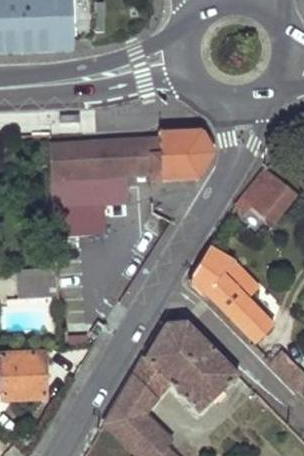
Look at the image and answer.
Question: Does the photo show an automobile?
Yes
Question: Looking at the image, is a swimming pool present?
Yes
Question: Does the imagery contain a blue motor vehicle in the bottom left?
No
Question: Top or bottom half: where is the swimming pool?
bottom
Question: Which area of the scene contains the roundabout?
top right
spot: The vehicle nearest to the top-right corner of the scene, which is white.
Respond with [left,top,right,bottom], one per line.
[285,24,304,46]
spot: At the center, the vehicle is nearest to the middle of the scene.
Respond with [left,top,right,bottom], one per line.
[136,230,155,254]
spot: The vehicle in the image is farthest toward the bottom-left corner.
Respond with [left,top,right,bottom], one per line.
[49,376,64,396]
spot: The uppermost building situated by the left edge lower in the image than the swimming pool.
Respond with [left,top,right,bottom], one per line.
[0,350,50,405]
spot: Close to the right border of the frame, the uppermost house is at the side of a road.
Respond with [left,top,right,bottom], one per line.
[236,167,300,226]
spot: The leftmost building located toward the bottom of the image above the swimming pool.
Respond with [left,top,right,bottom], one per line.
[17,268,56,298]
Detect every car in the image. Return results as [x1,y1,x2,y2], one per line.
[91,386,109,409]
[200,7,220,19]
[49,376,64,396]
[288,342,304,362]
[60,276,81,287]
[130,322,147,343]
[254,88,275,99]
[124,257,142,278]
[136,230,155,254]
[74,84,96,95]
[52,352,74,372]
